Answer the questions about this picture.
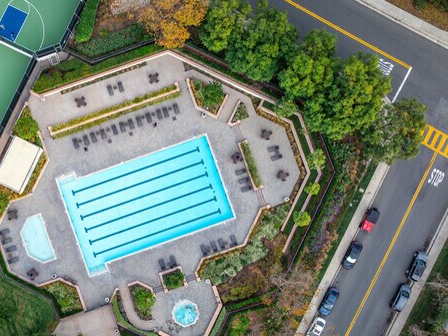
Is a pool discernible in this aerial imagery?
Yes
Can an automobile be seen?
Yes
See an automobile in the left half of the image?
No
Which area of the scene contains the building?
left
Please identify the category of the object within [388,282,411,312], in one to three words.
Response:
car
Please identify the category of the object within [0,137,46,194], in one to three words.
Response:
building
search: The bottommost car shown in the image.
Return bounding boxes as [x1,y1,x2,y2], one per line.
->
[305,315,327,336]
